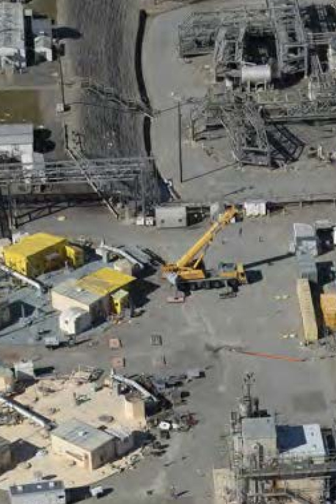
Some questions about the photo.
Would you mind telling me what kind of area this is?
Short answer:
industrial area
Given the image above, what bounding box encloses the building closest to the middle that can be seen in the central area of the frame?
[155,205,188,228]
